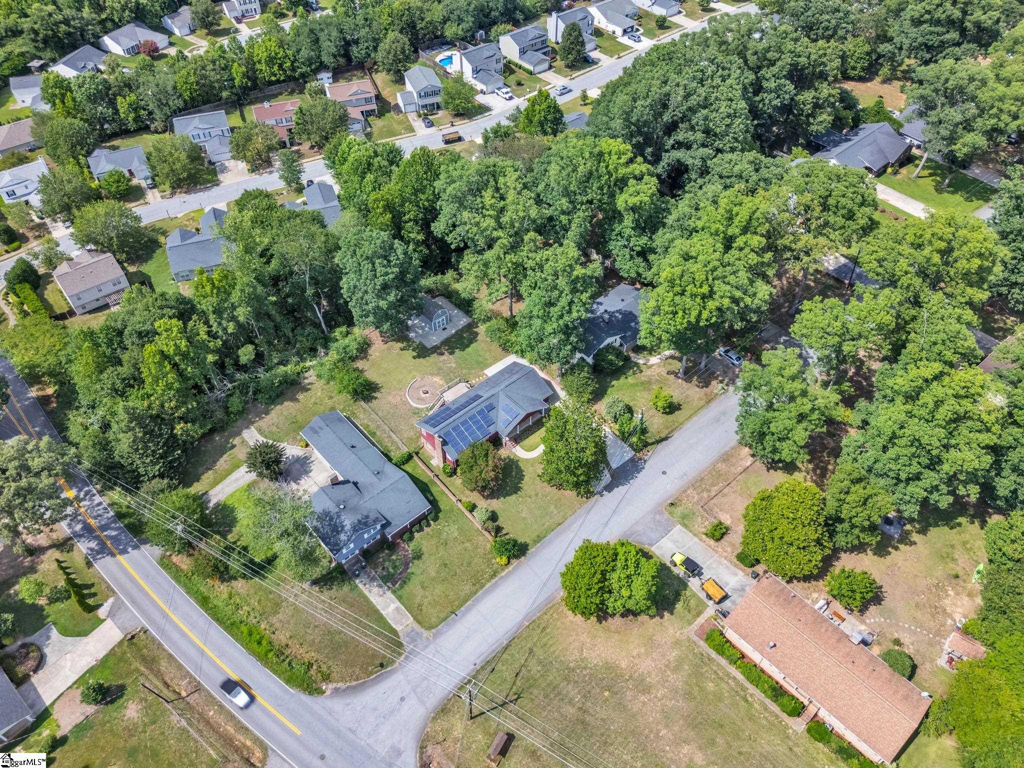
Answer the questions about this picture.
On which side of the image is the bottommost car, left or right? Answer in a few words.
left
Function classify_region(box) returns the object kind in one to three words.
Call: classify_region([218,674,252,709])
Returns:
car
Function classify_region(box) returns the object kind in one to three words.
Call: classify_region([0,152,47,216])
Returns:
house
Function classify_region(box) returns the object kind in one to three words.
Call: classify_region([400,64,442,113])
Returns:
house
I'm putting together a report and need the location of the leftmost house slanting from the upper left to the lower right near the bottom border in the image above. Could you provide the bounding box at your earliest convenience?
[720,573,931,766]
